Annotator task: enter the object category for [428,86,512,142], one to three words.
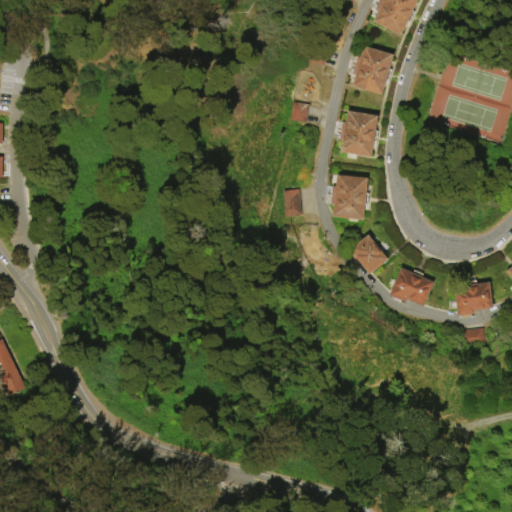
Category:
tennis court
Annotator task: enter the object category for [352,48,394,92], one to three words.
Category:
house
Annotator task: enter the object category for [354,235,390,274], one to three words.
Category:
house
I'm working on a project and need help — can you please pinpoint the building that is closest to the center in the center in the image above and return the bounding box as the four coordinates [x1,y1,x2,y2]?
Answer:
[284,188,304,216]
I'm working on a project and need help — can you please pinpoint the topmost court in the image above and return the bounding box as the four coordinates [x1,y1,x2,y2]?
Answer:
[438,56,512,108]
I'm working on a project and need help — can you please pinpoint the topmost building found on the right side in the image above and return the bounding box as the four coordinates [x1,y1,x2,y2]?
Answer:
[372,0,418,33]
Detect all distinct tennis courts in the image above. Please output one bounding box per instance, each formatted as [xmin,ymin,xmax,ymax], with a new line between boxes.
[428,86,512,142]
[438,56,512,108]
